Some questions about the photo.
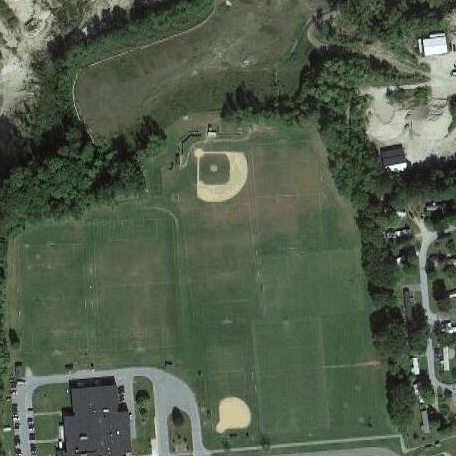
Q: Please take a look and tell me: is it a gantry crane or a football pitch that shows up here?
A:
football pitch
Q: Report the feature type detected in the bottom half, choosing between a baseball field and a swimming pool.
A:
baseball field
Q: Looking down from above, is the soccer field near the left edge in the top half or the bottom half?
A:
bottom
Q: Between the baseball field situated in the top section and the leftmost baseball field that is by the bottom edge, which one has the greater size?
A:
the baseball field situated in the top section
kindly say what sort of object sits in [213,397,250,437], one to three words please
baseball field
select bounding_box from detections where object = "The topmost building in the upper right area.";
[417,32,447,56]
